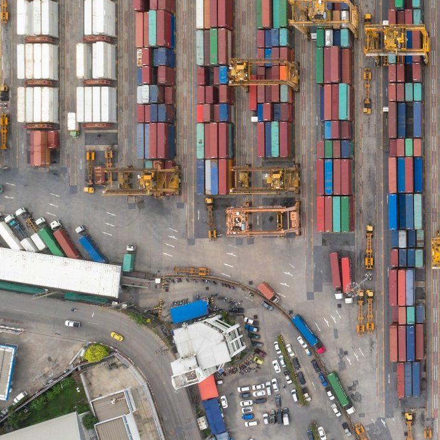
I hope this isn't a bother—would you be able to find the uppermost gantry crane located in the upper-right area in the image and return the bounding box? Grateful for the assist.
[288,0,359,39]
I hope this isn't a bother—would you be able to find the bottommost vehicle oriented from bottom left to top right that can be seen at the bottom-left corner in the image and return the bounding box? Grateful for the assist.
[11,387,32,406]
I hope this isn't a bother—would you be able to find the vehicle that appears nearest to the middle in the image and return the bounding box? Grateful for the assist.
[206,196,219,247]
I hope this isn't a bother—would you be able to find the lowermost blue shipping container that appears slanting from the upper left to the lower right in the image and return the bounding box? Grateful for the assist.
[294,314,321,347]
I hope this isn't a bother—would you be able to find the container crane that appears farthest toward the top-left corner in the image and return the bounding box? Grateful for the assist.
[94,163,180,199]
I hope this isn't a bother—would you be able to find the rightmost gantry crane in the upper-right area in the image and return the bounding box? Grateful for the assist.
[362,23,430,66]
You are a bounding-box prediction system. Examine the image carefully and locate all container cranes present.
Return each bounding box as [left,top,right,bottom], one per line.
[225,54,300,95]
[362,23,430,66]
[225,201,302,239]
[288,0,359,39]
[226,163,301,199]
[94,163,180,199]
